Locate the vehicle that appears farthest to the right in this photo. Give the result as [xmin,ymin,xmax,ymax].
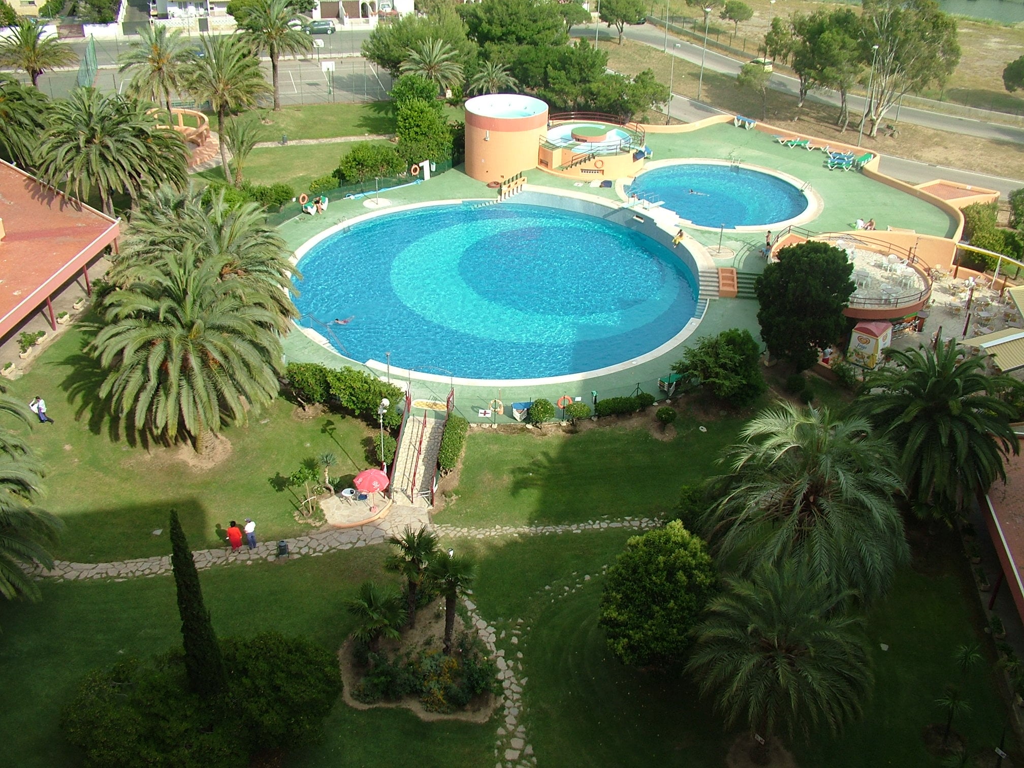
[744,56,781,74]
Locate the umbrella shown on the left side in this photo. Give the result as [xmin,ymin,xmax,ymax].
[349,464,394,512]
